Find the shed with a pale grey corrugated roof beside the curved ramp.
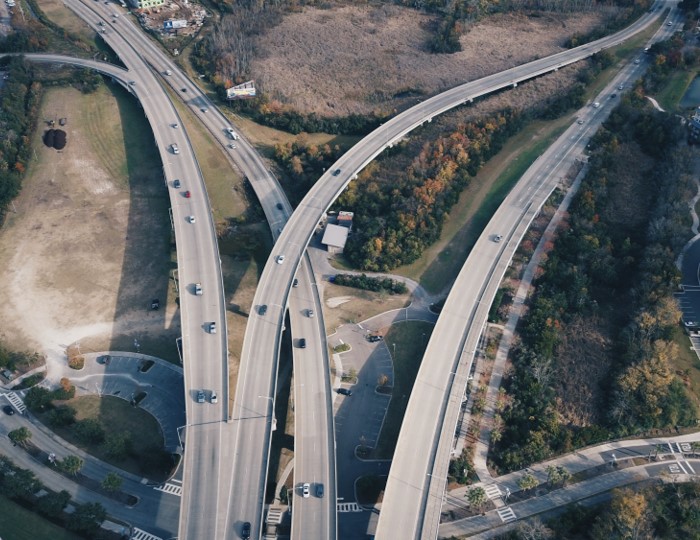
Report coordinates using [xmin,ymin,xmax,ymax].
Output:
[319,223,352,256]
